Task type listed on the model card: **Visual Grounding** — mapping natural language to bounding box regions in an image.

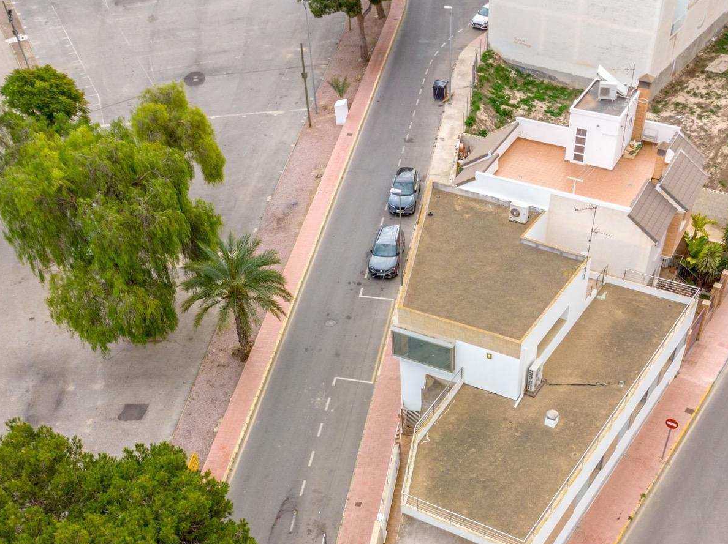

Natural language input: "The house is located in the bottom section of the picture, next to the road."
[370,181,700,544]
